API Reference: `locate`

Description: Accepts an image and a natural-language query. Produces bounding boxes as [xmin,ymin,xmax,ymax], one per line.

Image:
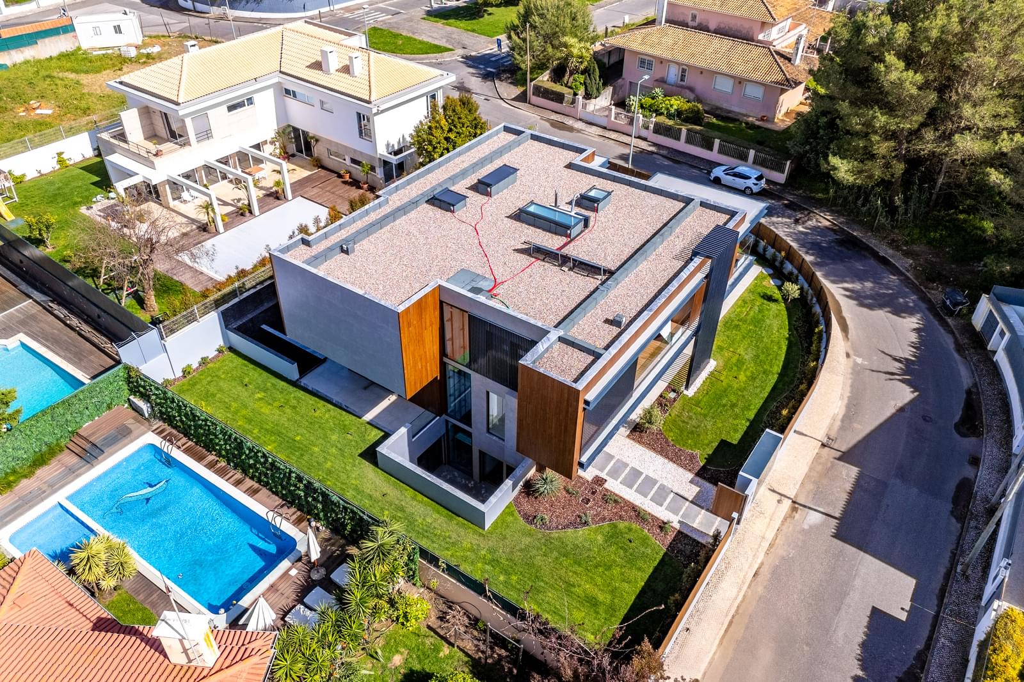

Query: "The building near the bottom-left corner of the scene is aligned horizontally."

[0,546,281,682]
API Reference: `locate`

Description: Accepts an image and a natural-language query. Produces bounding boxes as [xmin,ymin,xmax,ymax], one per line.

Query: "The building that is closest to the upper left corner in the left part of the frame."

[65,5,136,50]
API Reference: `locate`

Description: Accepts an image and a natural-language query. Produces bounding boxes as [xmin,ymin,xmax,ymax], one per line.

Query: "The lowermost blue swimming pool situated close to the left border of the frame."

[0,433,317,627]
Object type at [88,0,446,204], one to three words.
house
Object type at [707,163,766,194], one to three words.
car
